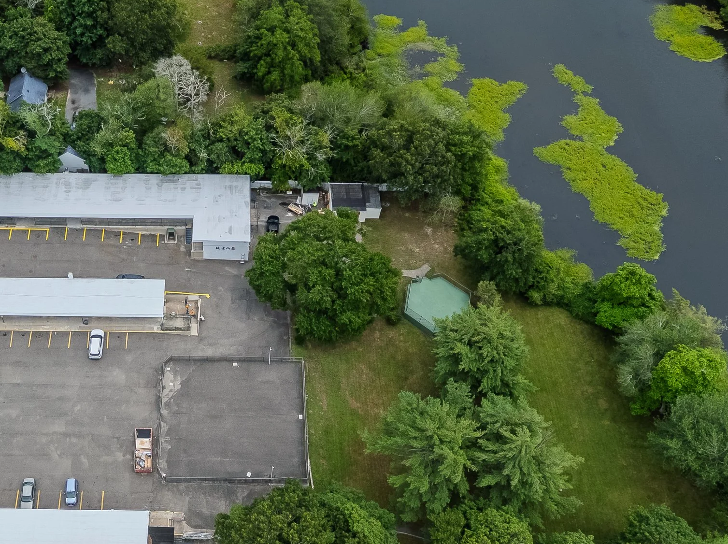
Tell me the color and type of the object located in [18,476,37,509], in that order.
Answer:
gray car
